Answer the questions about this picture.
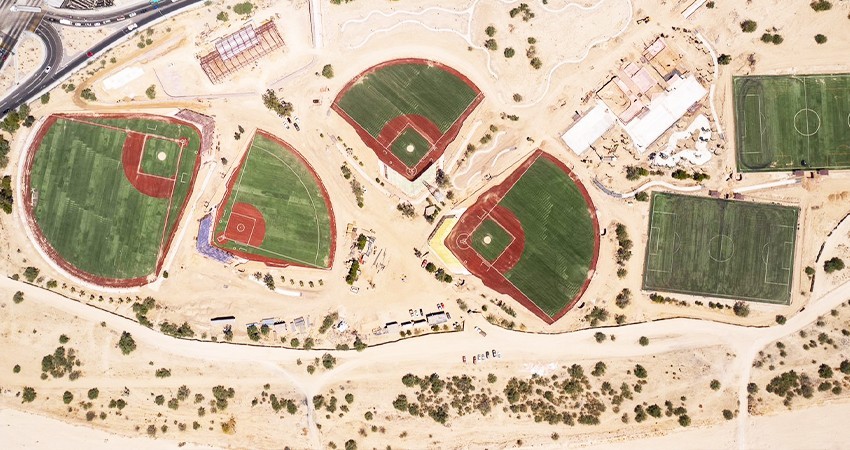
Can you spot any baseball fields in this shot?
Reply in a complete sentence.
Yes, a baseball field is visible in the scene.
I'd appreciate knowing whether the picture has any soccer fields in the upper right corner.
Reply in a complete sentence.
Yes, a soccer field shows up in the upper right corner.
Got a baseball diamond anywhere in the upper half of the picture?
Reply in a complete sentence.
Yes, the scene does show a baseball diamond in the upper half of the picture.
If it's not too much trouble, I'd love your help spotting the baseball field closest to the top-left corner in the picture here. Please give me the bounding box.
[25,113,202,288]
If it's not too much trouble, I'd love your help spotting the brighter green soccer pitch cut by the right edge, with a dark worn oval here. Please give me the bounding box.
[732,72,850,173]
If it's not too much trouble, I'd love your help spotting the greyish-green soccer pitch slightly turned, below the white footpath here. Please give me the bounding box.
[642,192,799,305]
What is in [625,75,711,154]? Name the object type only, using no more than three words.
building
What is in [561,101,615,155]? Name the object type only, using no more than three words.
building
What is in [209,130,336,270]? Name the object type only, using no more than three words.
baseball field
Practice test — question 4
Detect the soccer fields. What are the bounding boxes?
[642,192,799,305]
[732,72,850,173]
